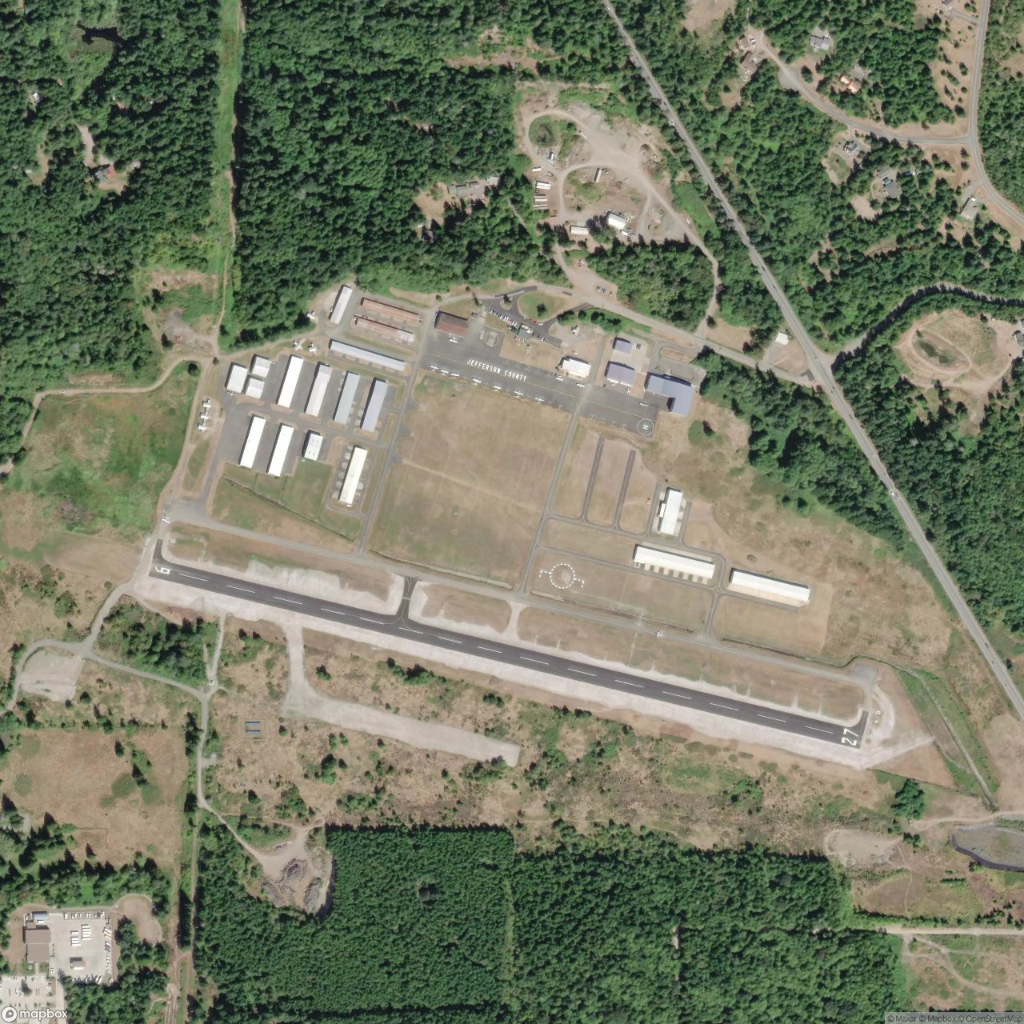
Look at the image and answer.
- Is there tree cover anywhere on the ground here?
Yes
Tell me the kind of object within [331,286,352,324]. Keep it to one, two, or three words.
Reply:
hangar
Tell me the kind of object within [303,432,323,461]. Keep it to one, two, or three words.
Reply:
hangar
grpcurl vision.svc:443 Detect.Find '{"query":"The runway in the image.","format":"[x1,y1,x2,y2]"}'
[149,459,868,749]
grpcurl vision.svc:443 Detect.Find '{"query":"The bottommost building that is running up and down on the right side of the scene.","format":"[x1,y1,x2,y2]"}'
[660,489,683,535]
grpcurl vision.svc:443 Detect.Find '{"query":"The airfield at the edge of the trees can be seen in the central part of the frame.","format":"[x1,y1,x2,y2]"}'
[149,239,878,749]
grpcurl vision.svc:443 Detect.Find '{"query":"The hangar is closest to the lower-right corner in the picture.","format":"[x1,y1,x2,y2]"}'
[731,570,811,601]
